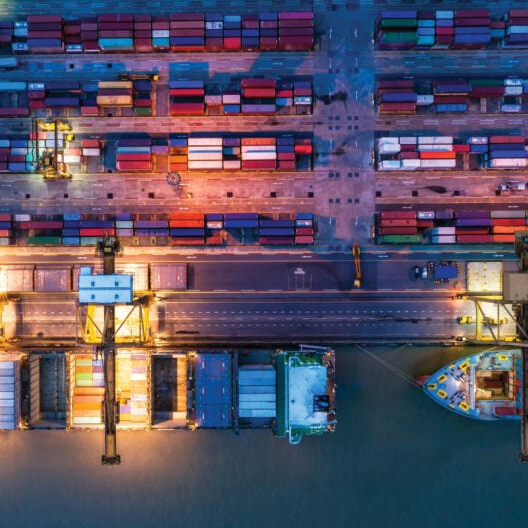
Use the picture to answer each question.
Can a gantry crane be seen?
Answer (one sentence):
Yes, you can see a gantry crane in this photo.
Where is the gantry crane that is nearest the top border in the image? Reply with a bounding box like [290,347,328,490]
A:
[32,116,74,177]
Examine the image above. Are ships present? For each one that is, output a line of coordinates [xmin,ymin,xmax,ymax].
[416,349,521,422]
[0,345,336,444]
